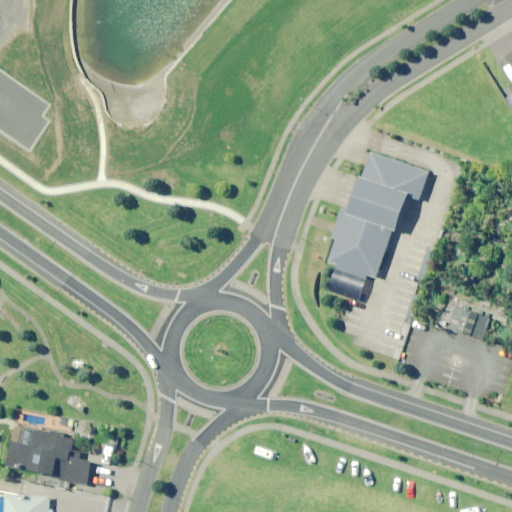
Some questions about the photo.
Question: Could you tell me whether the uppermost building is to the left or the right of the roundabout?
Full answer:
Looking at the photo, the uppermost building lies to the right of the roundabout.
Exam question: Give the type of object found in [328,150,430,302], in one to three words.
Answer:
building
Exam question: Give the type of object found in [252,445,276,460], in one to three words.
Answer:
camper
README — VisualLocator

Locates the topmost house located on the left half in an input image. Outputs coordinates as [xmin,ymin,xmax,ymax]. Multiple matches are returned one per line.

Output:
[5,429,90,486]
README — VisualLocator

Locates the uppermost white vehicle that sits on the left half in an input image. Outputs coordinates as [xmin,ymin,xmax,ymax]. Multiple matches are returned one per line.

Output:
[146,353,159,370]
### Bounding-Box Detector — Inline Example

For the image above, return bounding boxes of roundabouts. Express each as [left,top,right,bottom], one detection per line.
[144,242,302,442]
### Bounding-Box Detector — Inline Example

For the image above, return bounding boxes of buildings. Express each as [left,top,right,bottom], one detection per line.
[474,314,490,340]
[464,312,478,336]
[4,496,49,512]
[328,150,430,302]
[5,429,90,486]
